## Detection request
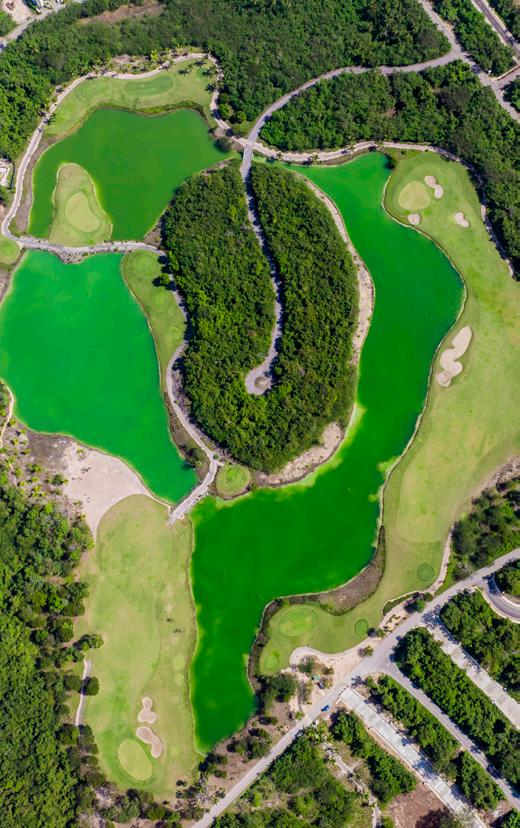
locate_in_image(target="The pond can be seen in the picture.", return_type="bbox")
[27,107,243,242]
